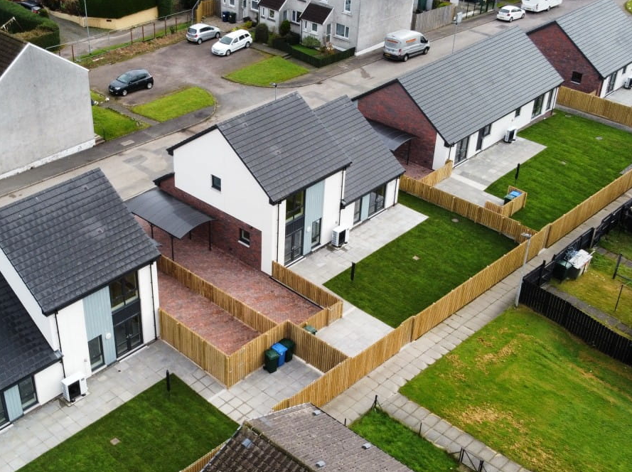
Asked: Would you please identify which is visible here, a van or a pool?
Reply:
van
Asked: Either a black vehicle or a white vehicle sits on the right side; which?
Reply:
white vehicle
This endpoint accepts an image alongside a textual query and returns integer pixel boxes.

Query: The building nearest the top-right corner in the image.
[523,0,632,100]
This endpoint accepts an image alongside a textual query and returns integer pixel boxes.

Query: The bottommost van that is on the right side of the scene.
[383,28,431,62]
